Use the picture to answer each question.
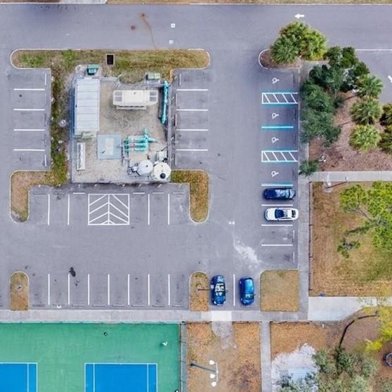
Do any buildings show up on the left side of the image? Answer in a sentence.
Yes, a building can be seen on the left side of the image.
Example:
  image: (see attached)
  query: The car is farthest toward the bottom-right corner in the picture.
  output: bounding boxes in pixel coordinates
[239,278,255,305]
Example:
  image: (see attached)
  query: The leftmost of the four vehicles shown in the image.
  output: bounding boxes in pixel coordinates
[211,276,226,306]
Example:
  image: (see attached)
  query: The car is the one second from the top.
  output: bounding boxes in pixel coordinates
[264,206,298,222]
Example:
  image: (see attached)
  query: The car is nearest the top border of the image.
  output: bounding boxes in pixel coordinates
[262,187,294,202]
